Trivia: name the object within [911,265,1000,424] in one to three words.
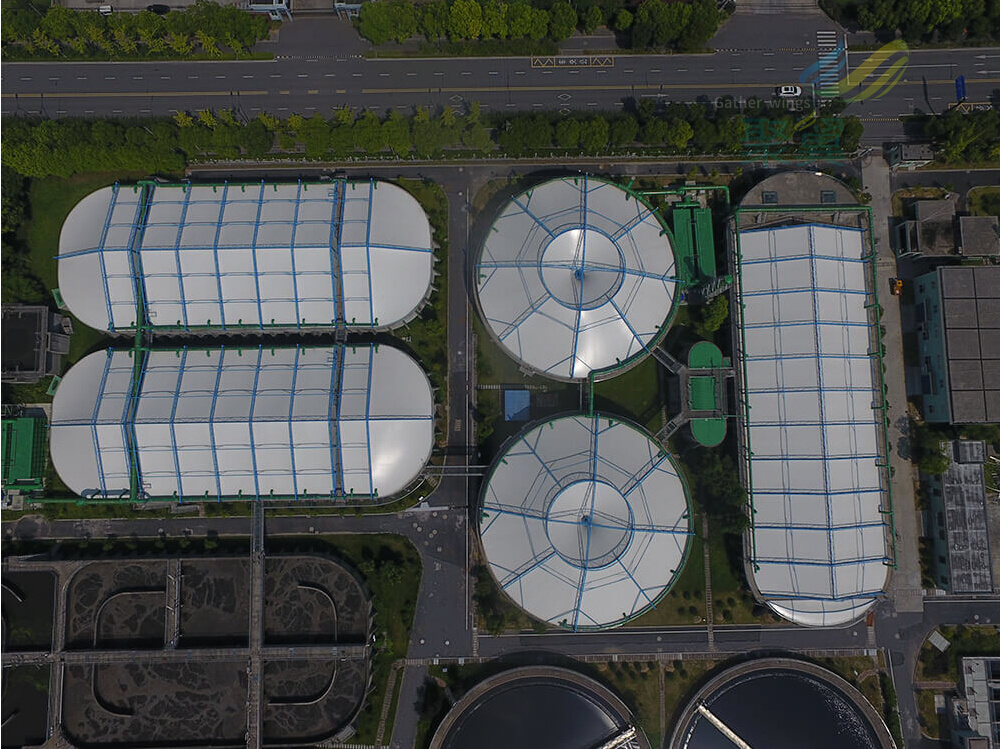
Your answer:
building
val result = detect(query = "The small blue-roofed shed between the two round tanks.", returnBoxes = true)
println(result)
[505,391,529,420]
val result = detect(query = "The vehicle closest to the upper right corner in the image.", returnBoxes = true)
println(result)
[778,83,803,96]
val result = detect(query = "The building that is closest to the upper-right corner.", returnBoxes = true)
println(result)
[889,142,937,176]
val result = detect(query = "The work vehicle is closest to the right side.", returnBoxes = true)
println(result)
[891,280,904,297]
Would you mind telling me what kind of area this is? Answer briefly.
industrial area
